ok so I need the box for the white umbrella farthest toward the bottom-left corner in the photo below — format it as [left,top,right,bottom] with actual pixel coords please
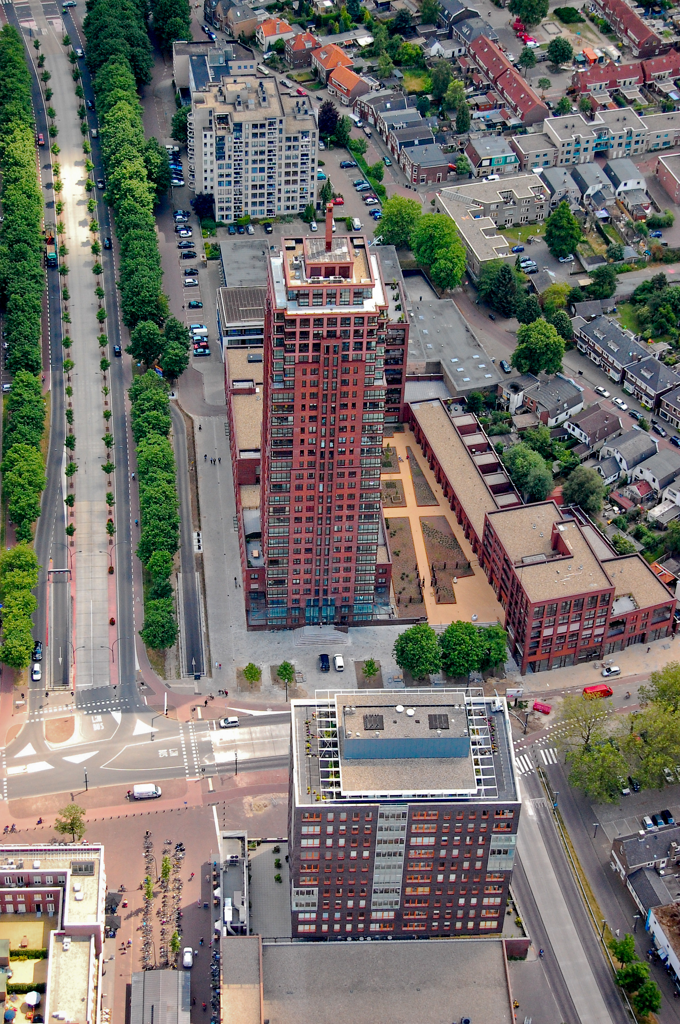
[25,991,41,1005]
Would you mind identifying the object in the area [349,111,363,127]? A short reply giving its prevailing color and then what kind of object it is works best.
white vehicle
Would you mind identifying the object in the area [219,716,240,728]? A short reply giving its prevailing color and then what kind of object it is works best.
white vehicle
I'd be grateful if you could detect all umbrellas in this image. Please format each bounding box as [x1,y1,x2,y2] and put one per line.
[5,1010,16,1022]
[105,913,124,931]
[32,1015,44,1024]
[25,991,41,1005]
[105,891,125,908]
[212,921,220,931]
[211,888,220,898]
